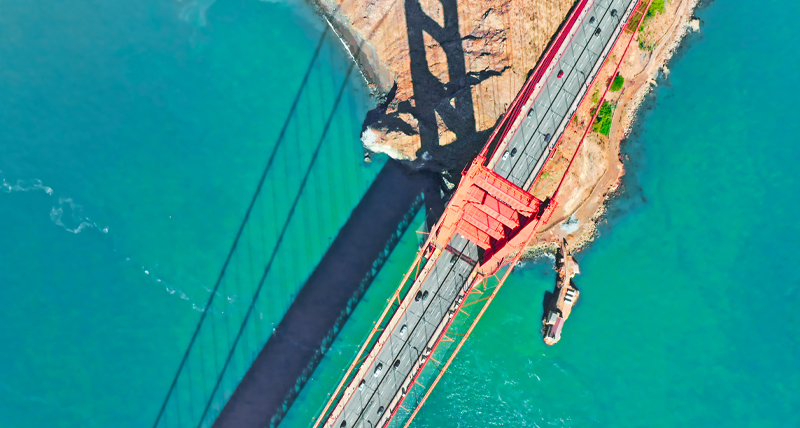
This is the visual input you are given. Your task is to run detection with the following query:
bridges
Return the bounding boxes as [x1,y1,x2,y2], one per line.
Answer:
[312,0,656,428]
